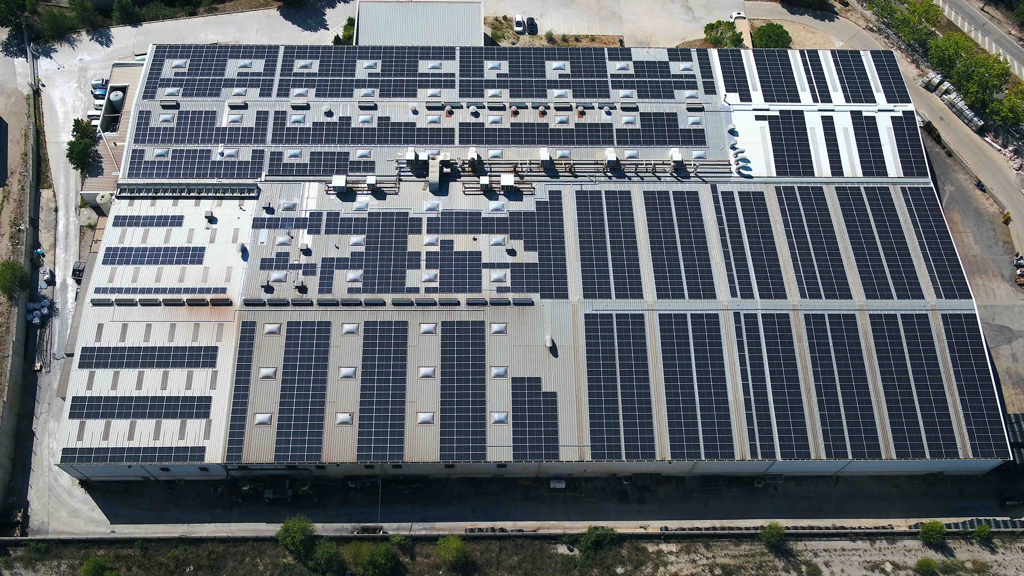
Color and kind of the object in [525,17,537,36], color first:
black vehicle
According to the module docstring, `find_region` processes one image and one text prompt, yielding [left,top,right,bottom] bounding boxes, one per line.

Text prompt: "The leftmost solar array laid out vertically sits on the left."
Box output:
[226,319,257,464]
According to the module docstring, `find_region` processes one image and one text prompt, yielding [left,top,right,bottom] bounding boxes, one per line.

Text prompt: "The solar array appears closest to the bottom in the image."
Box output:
[60,445,206,465]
